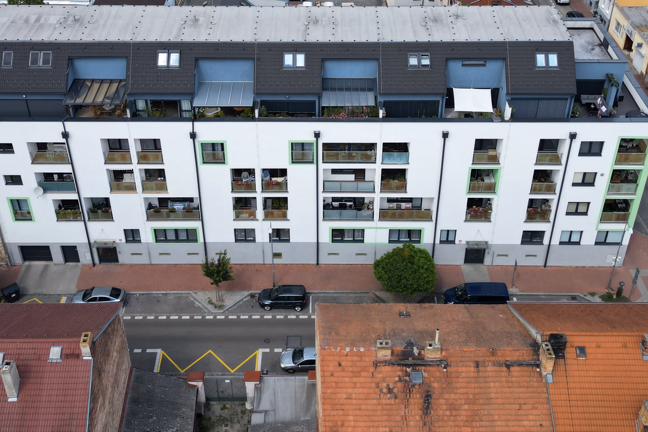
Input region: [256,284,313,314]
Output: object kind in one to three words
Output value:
car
